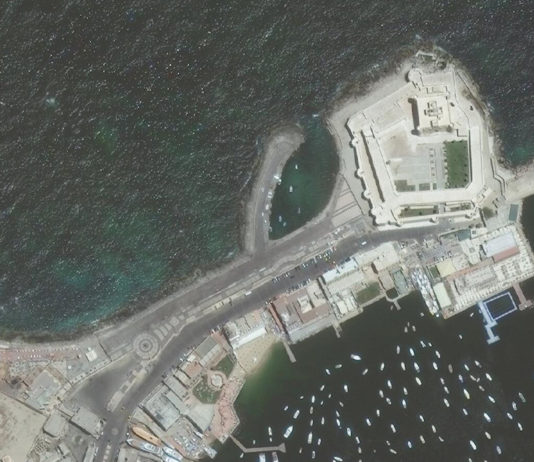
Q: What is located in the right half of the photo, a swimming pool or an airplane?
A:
swimming pool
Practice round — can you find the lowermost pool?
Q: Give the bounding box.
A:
[483,291,518,321]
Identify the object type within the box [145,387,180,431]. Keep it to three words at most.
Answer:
shed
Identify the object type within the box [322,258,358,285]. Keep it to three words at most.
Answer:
building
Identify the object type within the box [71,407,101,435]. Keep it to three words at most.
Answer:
hangar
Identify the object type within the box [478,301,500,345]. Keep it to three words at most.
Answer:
pier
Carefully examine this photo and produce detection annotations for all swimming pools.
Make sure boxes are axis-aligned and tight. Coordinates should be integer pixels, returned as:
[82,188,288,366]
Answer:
[483,291,518,321]
[507,203,519,222]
